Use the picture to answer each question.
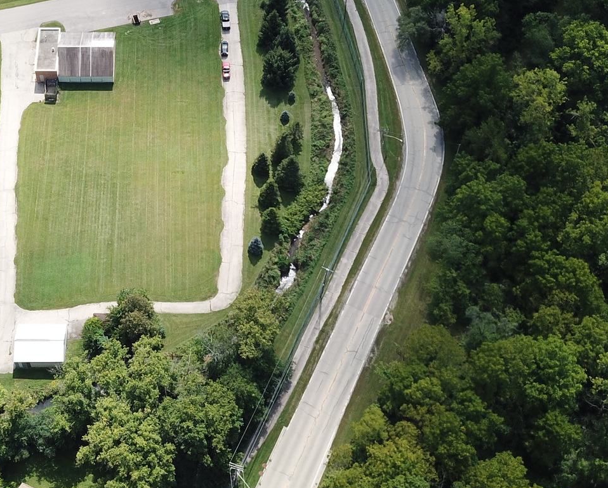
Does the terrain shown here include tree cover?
Yes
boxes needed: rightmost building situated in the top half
[58,32,115,82]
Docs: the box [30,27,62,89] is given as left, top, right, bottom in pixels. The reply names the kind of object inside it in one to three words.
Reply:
building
